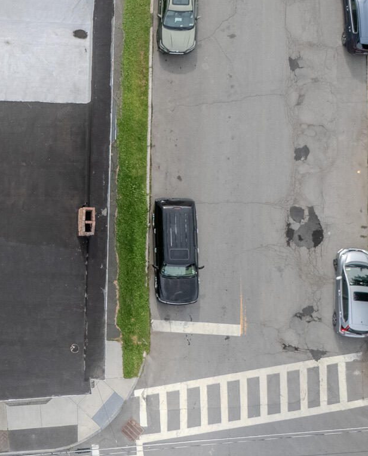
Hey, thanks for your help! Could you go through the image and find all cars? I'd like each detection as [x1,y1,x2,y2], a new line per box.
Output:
[339,0,368,56]
[155,0,202,55]
[330,244,368,341]
[151,195,204,308]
